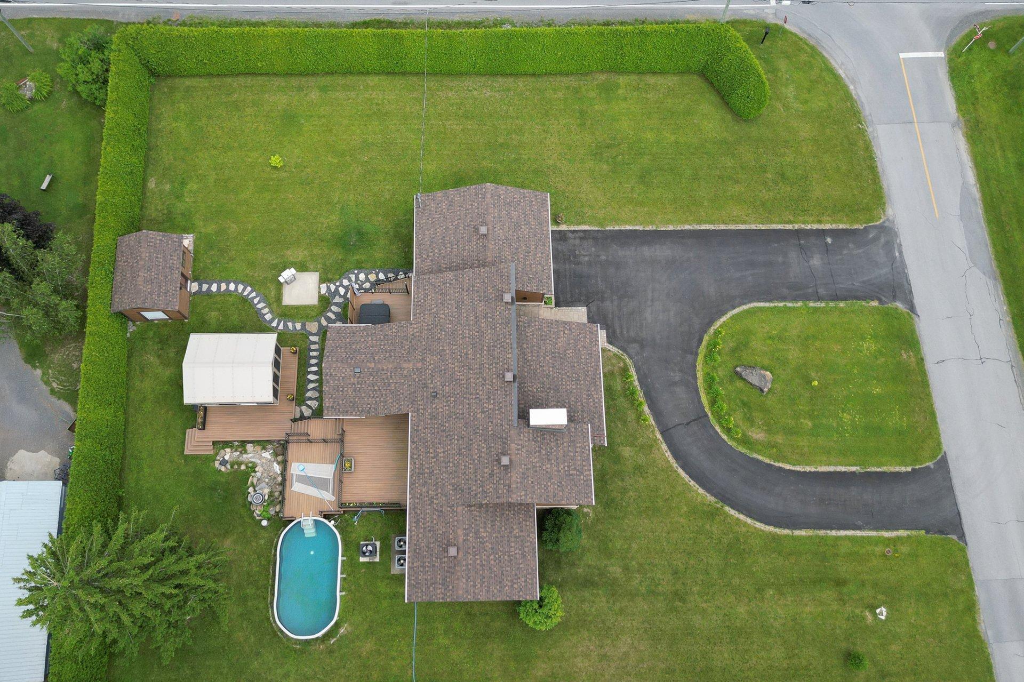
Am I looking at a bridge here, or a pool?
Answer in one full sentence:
The one in the frame is a pool.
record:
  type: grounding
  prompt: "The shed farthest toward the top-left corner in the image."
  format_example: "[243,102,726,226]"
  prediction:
[110,230,195,325]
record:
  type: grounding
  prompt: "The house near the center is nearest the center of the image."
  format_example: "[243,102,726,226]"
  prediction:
[323,182,608,604]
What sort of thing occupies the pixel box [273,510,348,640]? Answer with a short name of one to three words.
swimming pool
